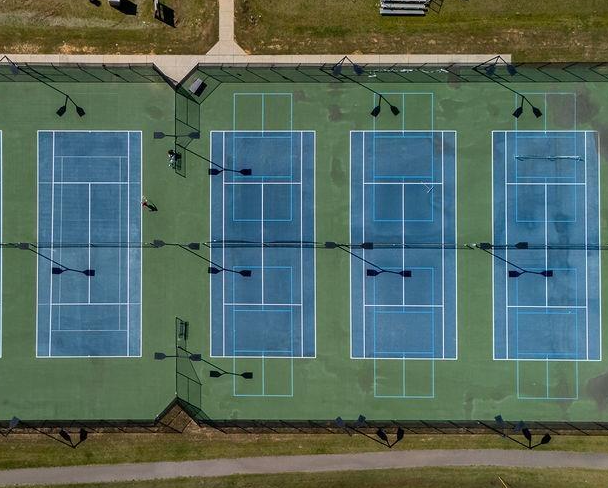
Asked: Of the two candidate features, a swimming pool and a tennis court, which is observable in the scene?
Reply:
tennis court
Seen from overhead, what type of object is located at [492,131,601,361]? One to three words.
tennis court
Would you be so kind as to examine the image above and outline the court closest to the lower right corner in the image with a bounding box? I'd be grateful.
[517,268,578,398]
